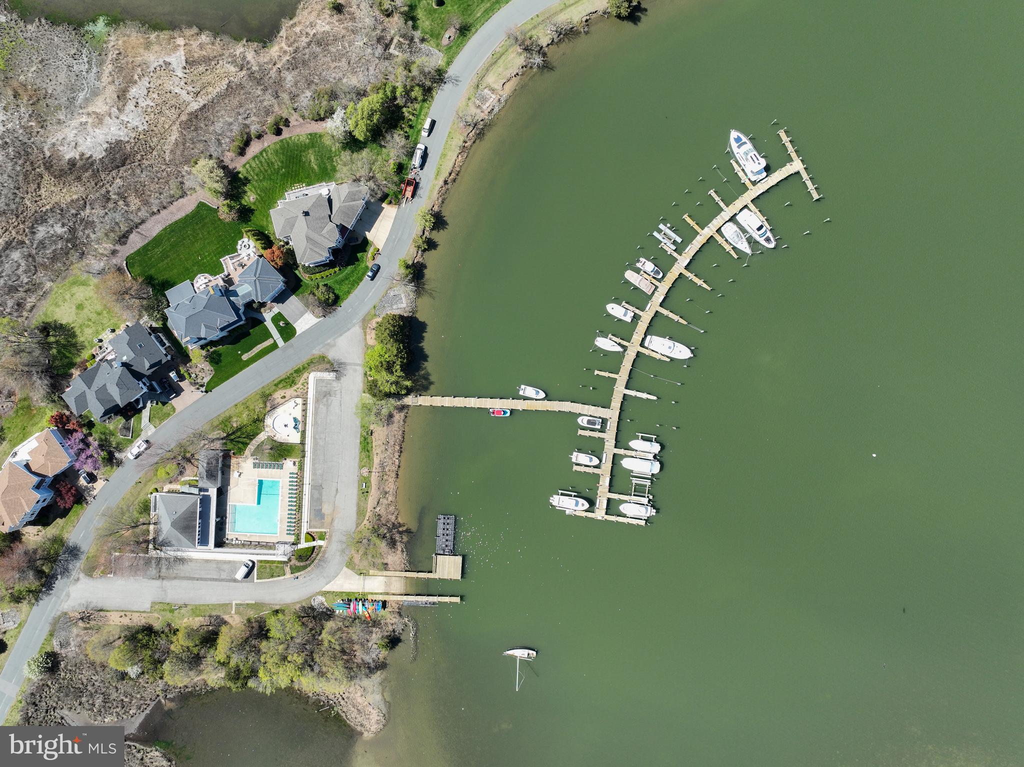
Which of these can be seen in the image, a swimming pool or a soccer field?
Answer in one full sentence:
The image shows a swimming pool.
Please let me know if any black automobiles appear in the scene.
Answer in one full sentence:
Yes, the photo shows a black automobile.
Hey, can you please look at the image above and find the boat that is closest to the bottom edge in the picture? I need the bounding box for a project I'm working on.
[505,649,536,689]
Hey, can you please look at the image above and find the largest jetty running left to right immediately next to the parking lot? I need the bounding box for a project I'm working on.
[400,395,610,419]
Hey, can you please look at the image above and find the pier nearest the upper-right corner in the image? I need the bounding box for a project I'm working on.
[777,130,819,200]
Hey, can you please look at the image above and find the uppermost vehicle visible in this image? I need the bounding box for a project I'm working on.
[421,116,435,137]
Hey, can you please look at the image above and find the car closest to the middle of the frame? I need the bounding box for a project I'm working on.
[364,264,381,281]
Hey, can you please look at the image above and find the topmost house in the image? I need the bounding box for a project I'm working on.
[269,180,371,266]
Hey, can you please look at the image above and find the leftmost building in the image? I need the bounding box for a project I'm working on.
[0,428,78,533]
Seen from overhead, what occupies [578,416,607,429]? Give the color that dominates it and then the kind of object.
white boat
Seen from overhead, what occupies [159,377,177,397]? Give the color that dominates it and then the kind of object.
black car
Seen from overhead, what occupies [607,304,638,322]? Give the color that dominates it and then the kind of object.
white boat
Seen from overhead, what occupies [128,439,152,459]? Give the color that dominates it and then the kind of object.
white vehicle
